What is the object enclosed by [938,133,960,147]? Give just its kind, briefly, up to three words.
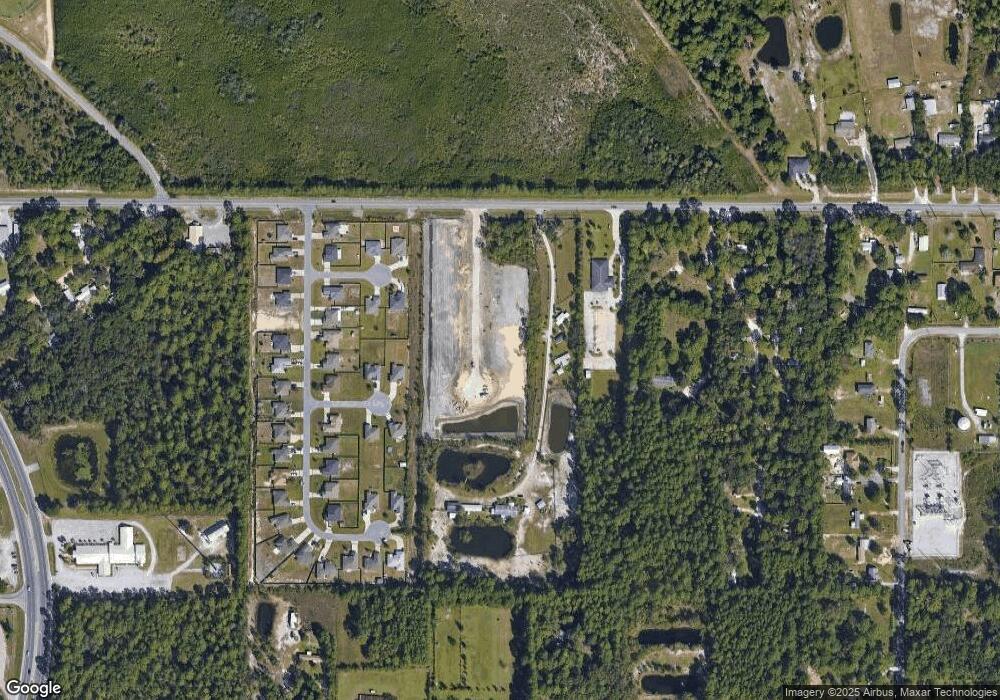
house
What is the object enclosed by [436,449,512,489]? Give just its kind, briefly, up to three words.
pond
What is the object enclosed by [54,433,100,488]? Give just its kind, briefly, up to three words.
pond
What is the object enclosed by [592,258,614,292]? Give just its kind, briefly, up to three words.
building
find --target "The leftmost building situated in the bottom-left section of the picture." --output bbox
[72,527,145,577]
